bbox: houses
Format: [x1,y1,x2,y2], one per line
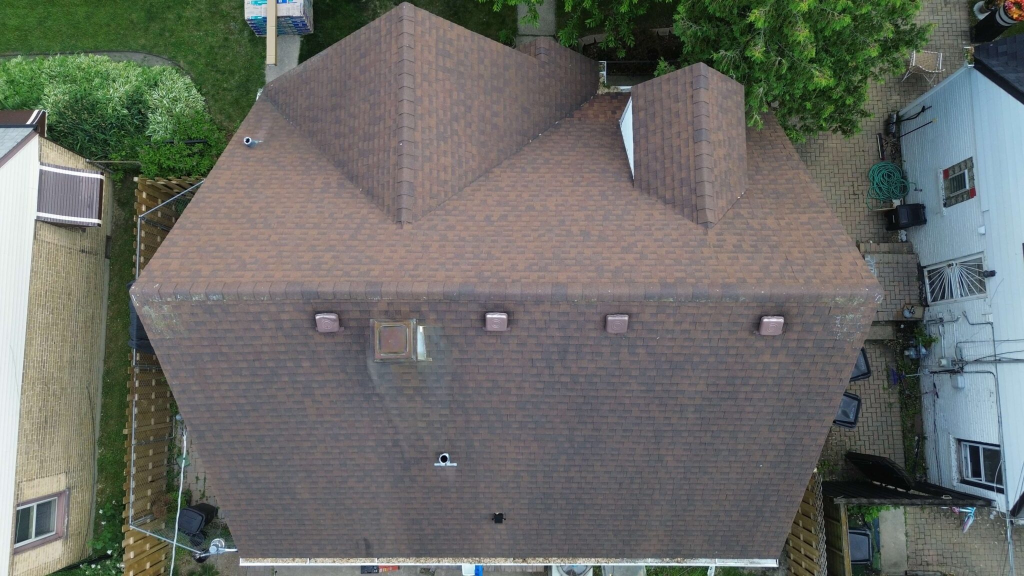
[900,29,1024,530]
[0,108,121,576]
[129,0,884,567]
